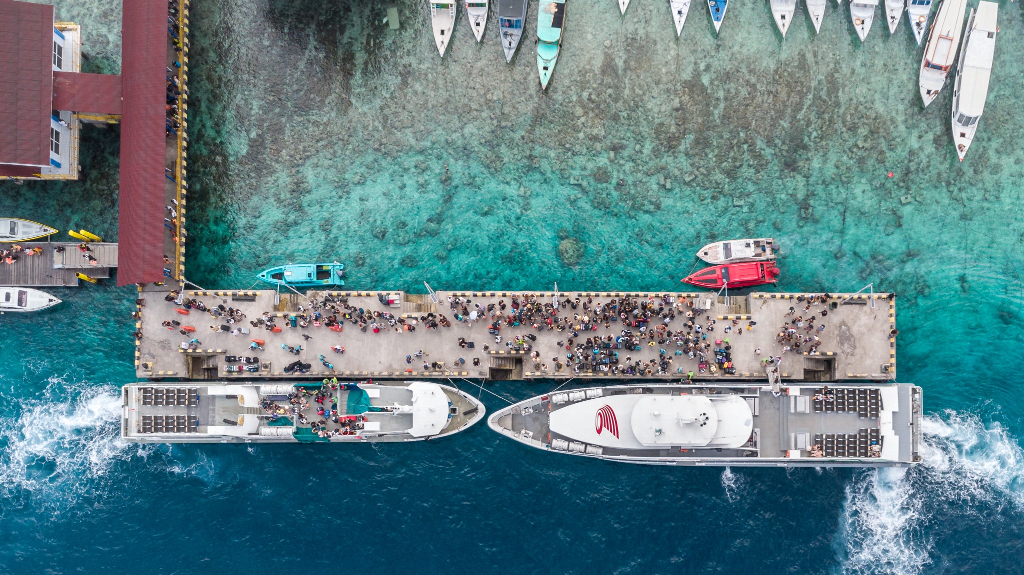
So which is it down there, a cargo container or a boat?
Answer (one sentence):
There is a boat in the scene.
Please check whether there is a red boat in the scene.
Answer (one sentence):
Yes, a red boat appears in the view.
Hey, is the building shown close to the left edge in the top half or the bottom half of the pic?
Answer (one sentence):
Seen from above, the building shown close to the left edge lies in the top half of the view.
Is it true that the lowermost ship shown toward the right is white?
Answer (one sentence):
Yes, the lowermost ship shown toward the right appears white.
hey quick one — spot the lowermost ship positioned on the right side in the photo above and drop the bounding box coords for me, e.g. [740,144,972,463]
[487,383,924,467]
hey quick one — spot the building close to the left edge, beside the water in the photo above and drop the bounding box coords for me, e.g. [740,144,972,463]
[0,0,110,189]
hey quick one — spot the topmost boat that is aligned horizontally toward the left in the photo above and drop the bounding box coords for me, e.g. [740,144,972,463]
[0,216,58,243]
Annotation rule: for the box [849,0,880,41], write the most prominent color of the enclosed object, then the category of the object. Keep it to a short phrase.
white boat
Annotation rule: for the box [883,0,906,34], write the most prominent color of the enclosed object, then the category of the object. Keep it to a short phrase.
white boat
